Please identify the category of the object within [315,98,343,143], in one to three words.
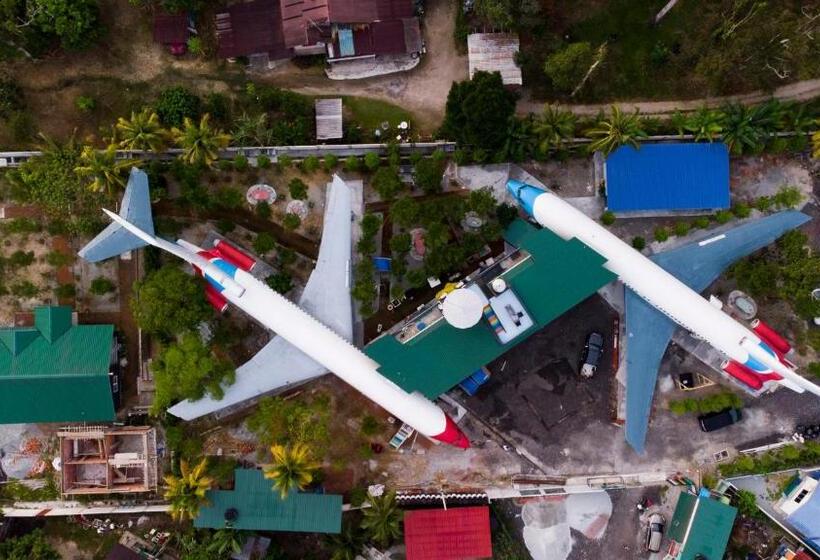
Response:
shed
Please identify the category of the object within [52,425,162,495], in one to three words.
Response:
house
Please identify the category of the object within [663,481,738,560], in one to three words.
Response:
house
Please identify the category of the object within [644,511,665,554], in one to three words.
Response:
car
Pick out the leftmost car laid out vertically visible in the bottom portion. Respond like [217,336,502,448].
[579,332,604,377]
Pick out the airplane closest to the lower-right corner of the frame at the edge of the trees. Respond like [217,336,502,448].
[508,183,820,456]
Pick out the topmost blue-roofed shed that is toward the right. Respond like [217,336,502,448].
[597,143,730,214]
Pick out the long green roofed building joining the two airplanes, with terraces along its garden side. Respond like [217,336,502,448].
[364,220,616,401]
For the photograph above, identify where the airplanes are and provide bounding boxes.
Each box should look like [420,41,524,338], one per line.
[508,183,820,456]
[77,167,468,446]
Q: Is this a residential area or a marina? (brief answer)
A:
residential area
